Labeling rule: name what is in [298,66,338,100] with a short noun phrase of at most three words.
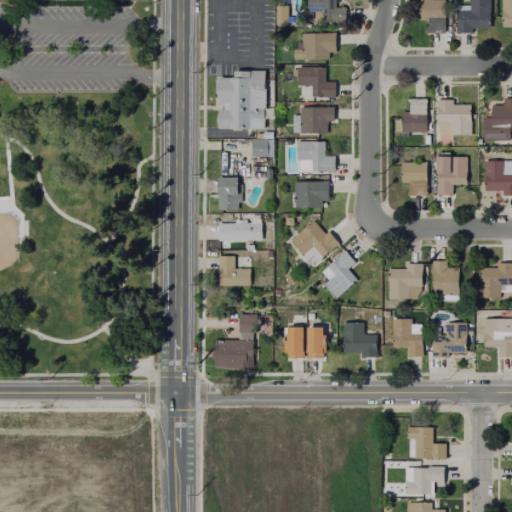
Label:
house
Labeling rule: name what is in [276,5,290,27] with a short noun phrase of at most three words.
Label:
shed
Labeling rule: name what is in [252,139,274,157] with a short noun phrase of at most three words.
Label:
building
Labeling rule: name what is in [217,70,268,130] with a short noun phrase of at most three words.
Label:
building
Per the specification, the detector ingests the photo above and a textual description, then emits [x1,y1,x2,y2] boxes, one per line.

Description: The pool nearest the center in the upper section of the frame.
[247,184,262,208]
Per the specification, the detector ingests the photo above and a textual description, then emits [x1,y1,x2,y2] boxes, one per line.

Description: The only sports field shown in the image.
[0,197,29,270]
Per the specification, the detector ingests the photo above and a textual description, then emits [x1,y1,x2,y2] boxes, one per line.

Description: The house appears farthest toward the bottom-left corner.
[214,340,256,370]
